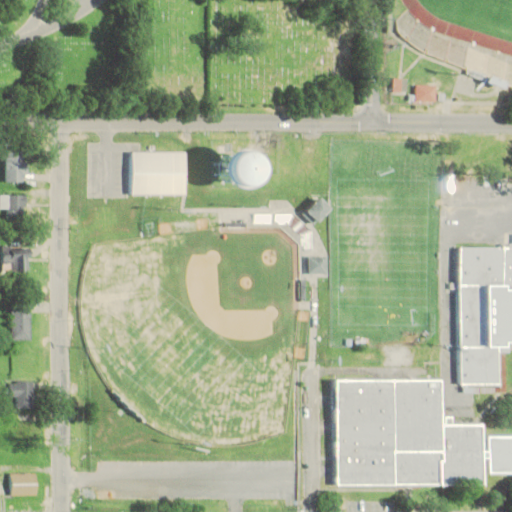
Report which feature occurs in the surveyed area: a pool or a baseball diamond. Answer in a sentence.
Looking from above, you can make out a baseball diamond.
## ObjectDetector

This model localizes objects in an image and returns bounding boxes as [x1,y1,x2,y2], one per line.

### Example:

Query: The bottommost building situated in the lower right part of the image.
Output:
[332,380,512,486]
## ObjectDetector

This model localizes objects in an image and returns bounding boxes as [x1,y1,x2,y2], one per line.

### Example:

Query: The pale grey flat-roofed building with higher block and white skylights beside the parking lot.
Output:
[448,247,512,384]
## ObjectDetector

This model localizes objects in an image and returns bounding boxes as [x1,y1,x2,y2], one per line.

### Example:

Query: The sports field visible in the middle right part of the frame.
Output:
[331,137,440,346]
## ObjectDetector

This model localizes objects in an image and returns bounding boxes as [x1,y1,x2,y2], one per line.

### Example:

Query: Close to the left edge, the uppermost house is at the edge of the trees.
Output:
[5,153,28,184]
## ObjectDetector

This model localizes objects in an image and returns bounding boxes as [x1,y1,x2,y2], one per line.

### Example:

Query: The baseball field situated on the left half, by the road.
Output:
[78,229,298,446]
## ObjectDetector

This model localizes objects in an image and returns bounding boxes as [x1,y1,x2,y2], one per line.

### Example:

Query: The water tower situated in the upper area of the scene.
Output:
[220,150,268,192]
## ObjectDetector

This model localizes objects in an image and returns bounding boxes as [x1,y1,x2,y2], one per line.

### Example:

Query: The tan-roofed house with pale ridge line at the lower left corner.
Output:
[10,474,38,497]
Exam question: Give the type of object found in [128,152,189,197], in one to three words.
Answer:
building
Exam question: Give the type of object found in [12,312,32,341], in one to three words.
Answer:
house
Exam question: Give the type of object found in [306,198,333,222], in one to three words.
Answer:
building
